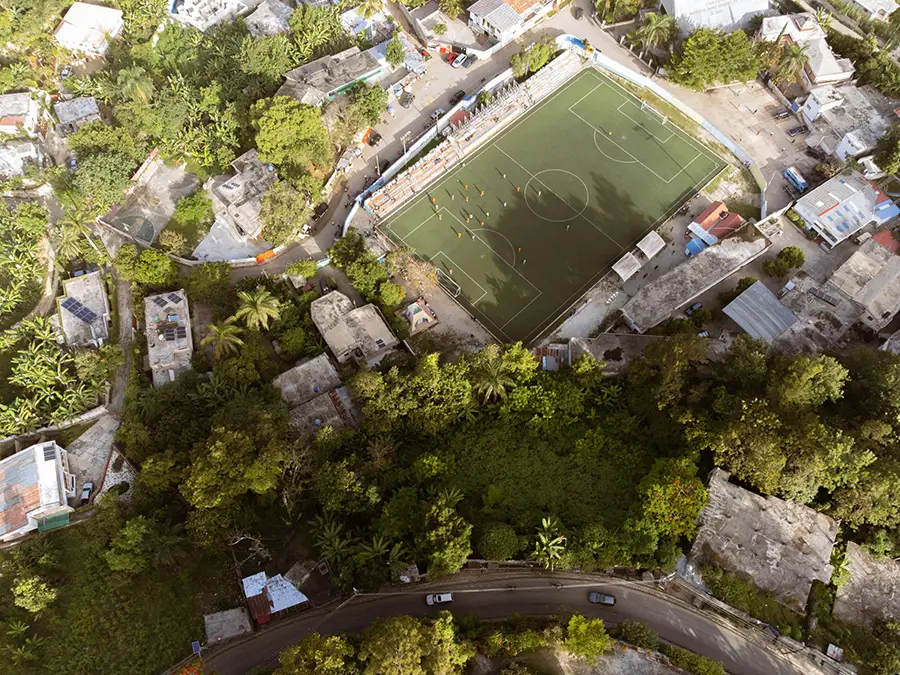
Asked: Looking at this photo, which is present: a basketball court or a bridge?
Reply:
basketball court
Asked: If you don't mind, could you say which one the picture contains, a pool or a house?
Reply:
house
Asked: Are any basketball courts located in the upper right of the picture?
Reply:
No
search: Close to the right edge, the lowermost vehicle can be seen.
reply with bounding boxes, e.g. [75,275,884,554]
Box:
[853,232,873,248]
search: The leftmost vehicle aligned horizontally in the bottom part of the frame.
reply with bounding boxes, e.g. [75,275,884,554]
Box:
[425,593,454,606]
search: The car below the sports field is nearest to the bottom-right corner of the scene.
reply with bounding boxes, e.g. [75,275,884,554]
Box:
[589,592,615,606]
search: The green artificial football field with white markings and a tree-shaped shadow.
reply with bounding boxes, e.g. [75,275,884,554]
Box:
[377,63,731,350]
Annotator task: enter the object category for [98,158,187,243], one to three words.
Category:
basketball court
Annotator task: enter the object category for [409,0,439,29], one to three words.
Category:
building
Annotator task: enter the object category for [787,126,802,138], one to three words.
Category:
vehicle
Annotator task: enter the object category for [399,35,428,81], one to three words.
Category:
house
